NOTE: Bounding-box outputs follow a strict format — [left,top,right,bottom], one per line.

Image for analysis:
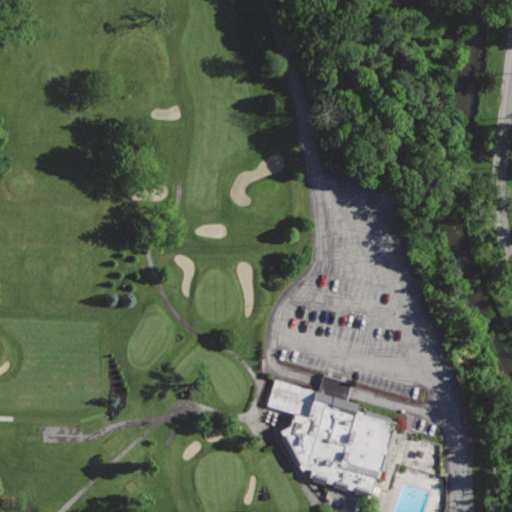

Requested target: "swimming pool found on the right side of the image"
[394,483,430,512]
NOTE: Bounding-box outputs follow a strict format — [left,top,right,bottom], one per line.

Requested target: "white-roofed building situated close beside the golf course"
[266,378,394,496]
